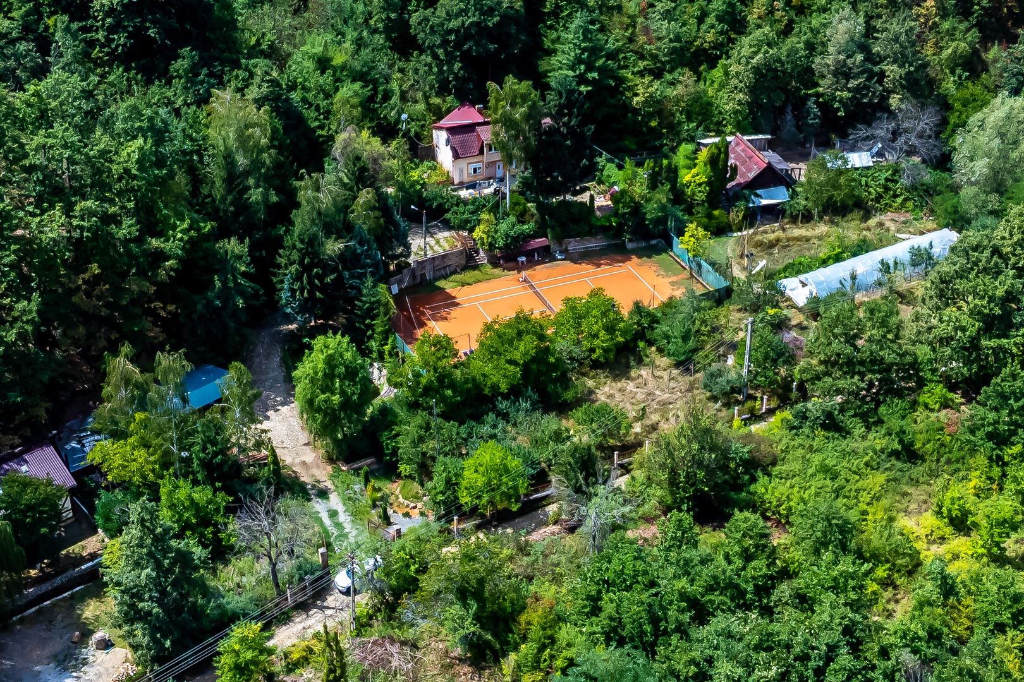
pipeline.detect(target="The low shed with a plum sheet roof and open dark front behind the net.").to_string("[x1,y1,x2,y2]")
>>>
[488,231,550,267]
